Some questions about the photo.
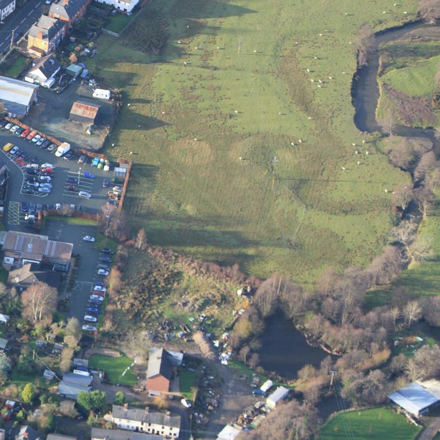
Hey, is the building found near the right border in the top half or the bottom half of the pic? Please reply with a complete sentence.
The building found near the right border is in the bottom half of the image.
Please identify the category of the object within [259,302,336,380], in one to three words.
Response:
pond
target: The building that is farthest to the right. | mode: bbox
[389,381,440,425]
